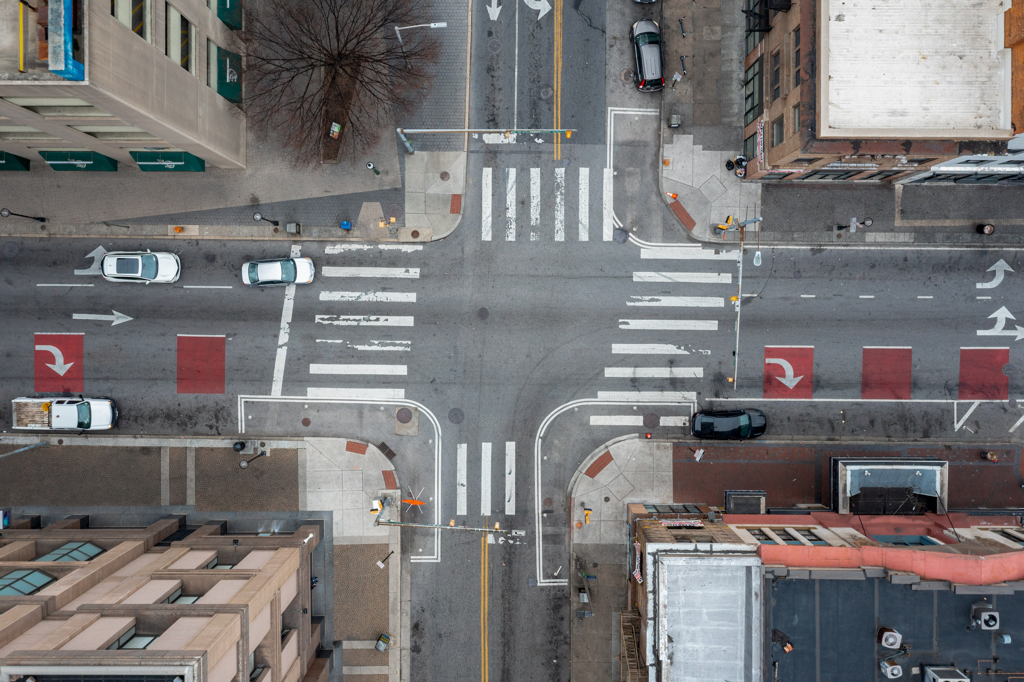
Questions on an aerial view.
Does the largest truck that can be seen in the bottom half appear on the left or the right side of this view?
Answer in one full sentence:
The largest truck that can be seen in the bottom half sits on the left side.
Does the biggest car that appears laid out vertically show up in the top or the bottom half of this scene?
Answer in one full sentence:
The biggest car that appears laid out vertically is in the top half of the image.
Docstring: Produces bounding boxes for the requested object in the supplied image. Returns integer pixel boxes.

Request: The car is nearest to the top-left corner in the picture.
[100,250,184,285]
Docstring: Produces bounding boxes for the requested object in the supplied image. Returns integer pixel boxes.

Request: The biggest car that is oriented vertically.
[631,19,665,93]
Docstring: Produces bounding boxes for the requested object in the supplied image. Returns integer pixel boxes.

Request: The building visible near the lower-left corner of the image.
[0,531,310,682]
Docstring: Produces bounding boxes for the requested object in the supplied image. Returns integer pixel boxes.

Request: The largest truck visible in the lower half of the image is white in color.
[10,395,122,434]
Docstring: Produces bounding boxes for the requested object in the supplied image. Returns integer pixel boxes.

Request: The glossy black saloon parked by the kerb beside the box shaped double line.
[691,408,766,442]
